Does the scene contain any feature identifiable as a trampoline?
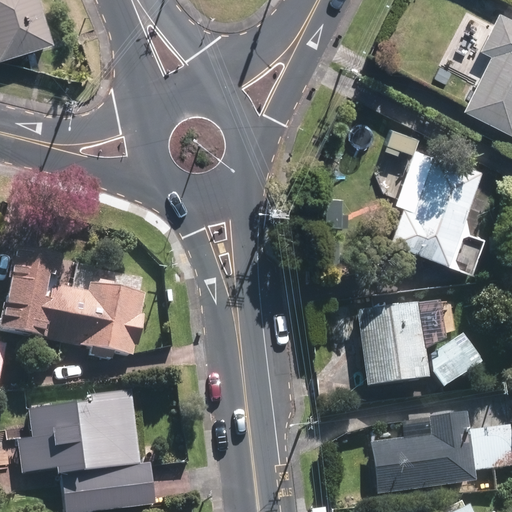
Yes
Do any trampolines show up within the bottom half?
No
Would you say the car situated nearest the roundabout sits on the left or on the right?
left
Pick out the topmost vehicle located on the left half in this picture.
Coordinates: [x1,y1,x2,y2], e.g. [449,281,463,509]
[168,191,188,218]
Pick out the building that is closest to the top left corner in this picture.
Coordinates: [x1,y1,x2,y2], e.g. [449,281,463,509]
[0,0,54,63]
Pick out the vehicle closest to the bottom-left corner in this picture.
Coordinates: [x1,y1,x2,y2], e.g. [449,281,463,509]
[54,365,82,380]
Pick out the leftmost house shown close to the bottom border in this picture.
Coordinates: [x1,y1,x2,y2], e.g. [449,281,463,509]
[17,390,156,512]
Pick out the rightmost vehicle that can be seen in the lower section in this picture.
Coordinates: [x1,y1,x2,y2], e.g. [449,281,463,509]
[274,315,290,345]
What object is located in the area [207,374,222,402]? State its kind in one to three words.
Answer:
car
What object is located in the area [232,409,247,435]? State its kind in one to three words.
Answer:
car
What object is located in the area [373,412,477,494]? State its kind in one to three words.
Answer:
house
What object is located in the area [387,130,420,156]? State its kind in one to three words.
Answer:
shed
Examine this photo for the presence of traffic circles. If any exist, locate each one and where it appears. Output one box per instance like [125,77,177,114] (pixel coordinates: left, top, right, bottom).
[168,116,225,174]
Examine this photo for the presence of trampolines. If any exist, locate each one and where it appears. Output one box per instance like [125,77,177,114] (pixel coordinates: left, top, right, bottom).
[349,126,375,154]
